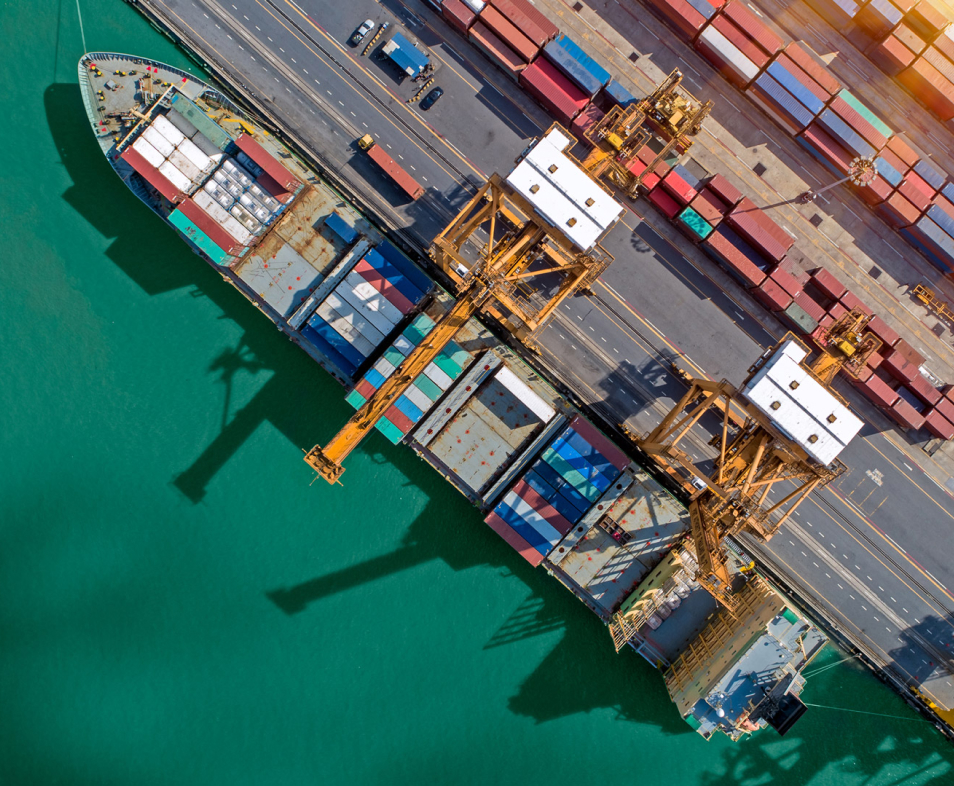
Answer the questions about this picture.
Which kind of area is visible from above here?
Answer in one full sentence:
What you see here is a port.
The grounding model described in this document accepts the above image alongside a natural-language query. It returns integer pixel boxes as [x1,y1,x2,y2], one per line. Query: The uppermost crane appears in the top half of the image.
[616,66,715,202]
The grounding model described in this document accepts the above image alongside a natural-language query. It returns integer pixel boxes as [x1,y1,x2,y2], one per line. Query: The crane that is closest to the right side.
[917,692,954,731]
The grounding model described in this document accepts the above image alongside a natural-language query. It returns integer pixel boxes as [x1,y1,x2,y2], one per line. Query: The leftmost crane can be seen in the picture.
[303,101,652,487]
